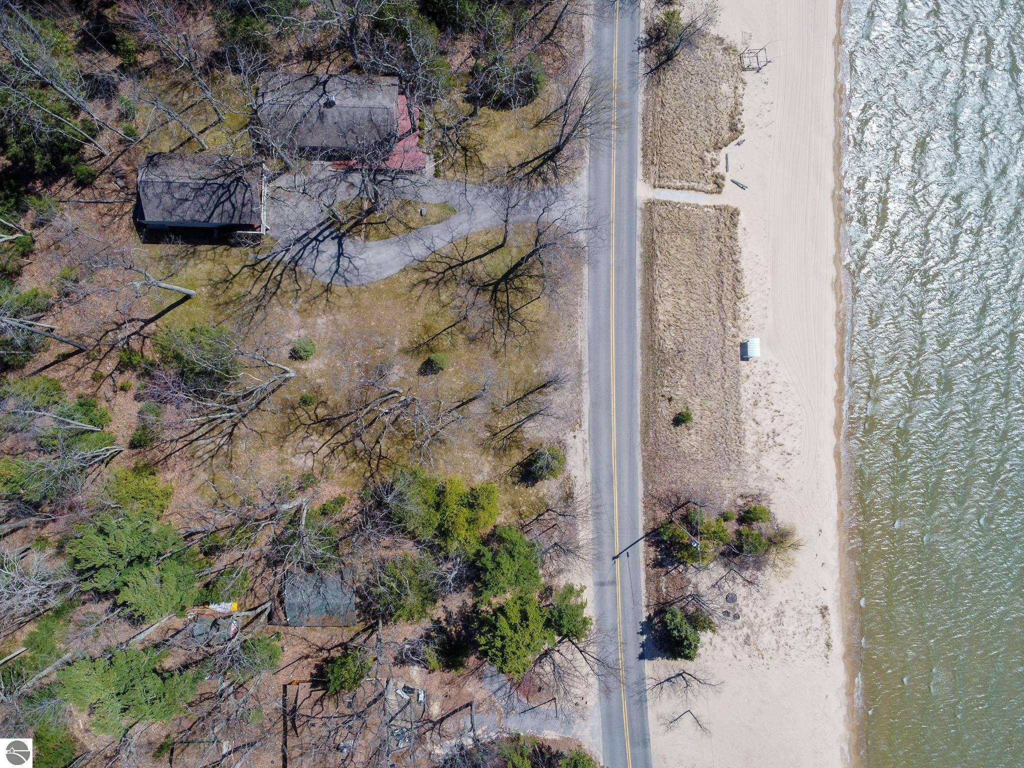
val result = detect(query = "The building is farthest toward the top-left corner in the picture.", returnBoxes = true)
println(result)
[130,155,271,225]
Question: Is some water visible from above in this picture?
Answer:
Yes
